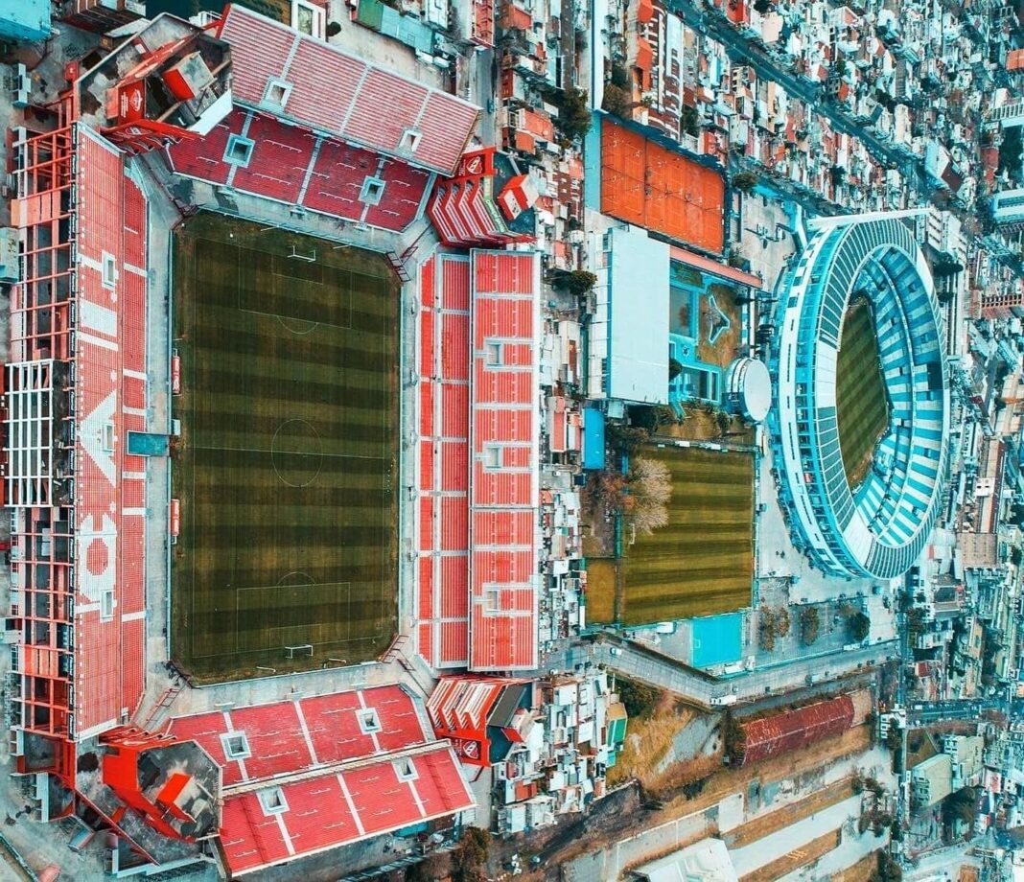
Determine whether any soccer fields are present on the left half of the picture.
Yes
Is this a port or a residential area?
residential area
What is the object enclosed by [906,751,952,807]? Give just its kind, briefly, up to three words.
building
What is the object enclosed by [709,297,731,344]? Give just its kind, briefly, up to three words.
swimming pool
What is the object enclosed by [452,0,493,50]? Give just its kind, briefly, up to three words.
house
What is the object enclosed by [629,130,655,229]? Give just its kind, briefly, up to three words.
tennis court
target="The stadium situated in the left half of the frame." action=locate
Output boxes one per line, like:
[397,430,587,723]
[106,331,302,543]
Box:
[0,5,547,882]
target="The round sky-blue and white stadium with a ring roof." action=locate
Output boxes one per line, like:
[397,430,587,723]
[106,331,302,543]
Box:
[764,208,950,578]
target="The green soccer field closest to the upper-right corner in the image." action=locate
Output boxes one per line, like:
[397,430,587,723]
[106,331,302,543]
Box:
[838,297,891,475]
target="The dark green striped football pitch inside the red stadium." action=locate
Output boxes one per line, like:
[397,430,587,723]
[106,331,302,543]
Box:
[174,209,401,684]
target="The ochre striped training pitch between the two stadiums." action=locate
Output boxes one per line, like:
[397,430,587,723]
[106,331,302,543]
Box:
[620,448,754,624]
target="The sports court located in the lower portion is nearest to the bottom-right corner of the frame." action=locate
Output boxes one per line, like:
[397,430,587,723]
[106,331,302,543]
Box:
[692,614,743,668]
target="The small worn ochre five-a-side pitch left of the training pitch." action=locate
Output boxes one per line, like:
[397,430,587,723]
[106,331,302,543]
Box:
[588,559,615,622]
